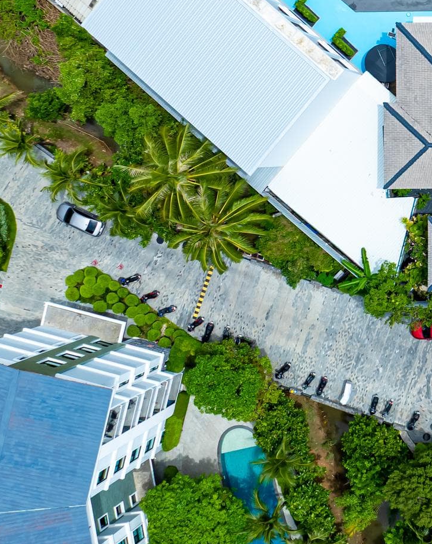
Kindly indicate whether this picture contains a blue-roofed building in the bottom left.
Yes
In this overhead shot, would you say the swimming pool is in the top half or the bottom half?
bottom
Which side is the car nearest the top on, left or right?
left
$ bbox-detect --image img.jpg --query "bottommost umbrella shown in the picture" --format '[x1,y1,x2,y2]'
[366,48,395,80]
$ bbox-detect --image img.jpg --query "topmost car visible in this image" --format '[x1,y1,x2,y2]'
[56,203,106,236]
